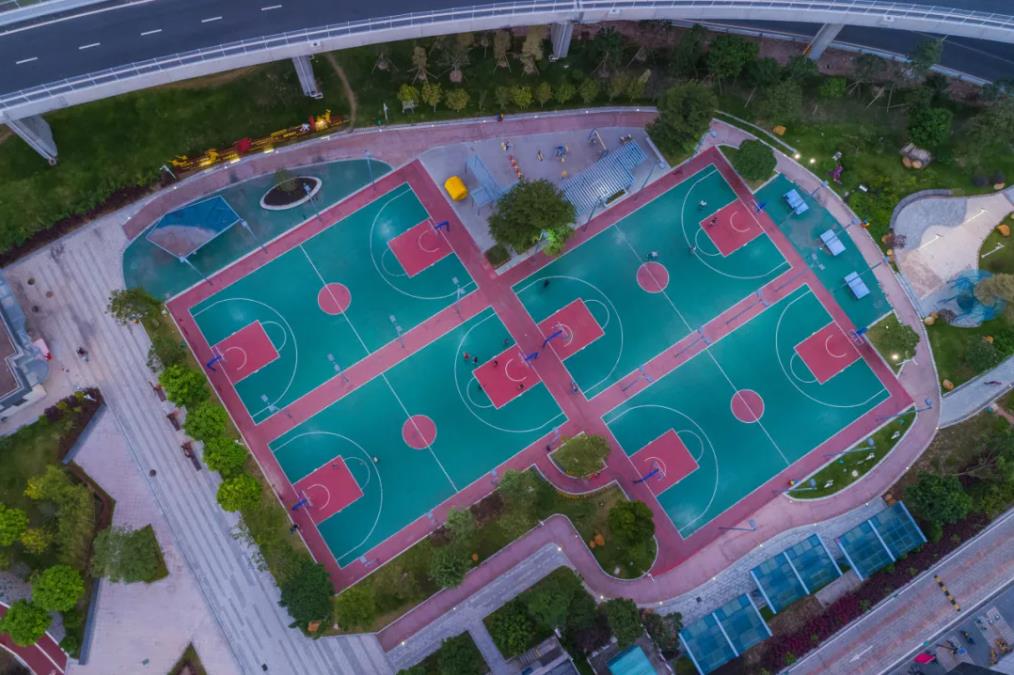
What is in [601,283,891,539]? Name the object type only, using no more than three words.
basketball court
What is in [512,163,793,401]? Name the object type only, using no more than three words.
basketball court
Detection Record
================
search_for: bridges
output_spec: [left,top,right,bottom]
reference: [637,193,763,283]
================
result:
[0,0,1014,163]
